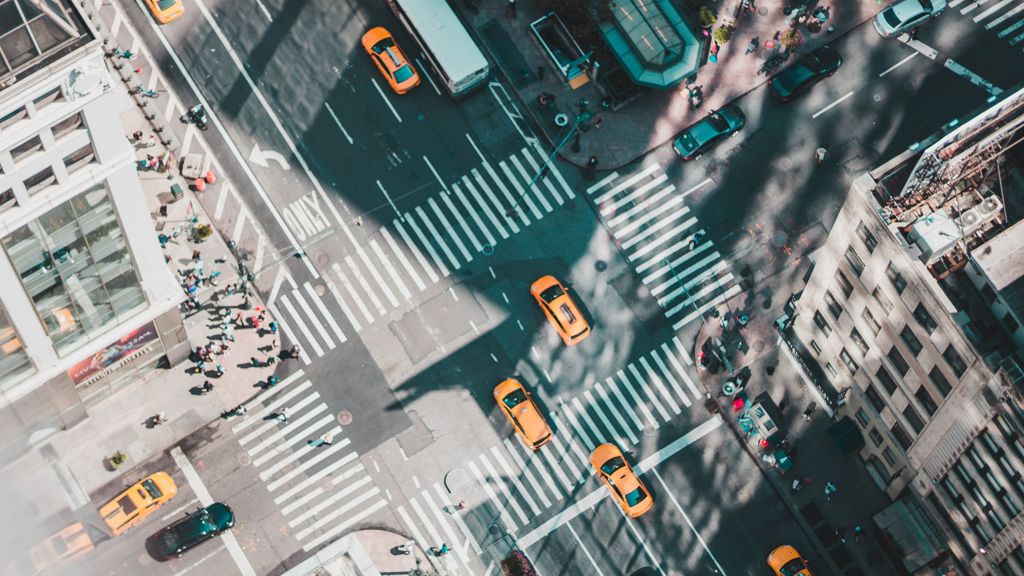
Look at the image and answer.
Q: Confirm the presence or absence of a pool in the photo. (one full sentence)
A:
No, no pool is visible in the scene.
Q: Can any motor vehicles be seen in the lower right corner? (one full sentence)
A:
Yes, in the lower right corner there is a motor vehicle.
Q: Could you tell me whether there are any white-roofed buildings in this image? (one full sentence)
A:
Yes, looking at the shot, I can spot a white-roofed building.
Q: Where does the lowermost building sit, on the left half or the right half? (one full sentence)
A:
The lowermost building is on the left side of the image.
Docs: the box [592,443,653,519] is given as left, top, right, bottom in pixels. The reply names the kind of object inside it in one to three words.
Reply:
car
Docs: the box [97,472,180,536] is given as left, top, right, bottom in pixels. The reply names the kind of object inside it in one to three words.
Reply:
car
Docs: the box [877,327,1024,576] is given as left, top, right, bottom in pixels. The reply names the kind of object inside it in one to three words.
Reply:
building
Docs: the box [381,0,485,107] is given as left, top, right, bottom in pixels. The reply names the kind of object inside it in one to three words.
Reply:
bus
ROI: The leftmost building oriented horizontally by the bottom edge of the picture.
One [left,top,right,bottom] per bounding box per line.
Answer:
[280,532,380,576]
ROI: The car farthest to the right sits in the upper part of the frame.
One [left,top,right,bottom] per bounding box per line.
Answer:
[875,0,944,42]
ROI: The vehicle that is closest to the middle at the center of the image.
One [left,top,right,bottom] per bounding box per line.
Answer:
[533,278,589,344]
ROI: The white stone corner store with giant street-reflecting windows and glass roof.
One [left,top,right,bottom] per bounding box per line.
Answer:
[0,0,194,464]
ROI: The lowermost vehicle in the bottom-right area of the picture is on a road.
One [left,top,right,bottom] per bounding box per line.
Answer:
[769,547,809,576]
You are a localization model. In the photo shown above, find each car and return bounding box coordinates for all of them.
[496,382,552,450]
[365,29,418,96]
[769,547,809,576]
[875,0,944,42]
[770,51,840,103]
[533,278,589,344]
[97,472,180,536]
[147,503,234,562]
[592,443,653,519]
[673,108,744,160]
